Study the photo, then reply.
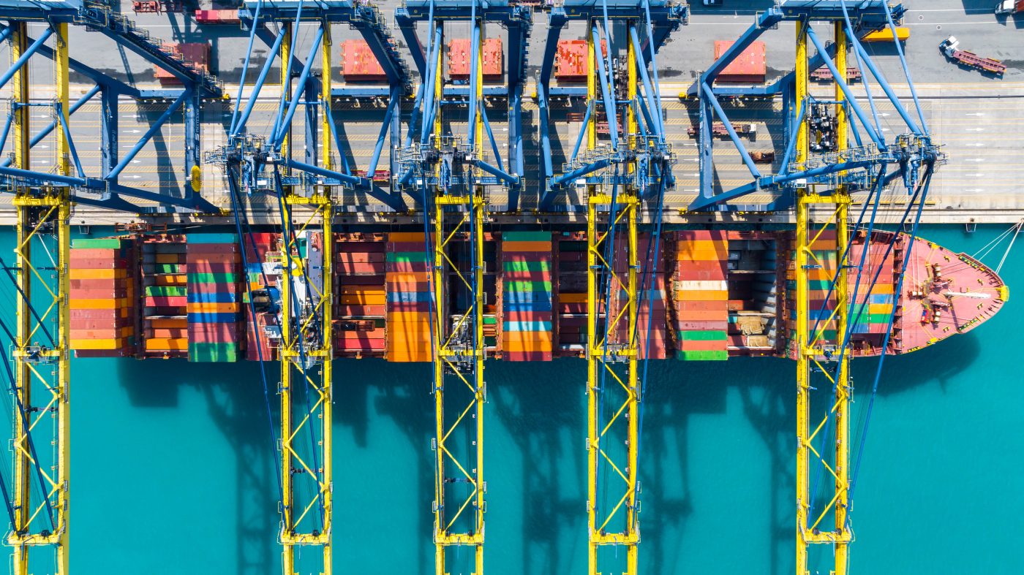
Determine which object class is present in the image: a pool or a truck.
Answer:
truck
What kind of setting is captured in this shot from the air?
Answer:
port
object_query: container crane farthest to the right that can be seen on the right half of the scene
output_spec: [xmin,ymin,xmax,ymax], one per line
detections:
[673,0,960,575]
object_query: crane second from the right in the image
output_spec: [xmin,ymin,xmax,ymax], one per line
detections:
[529,0,701,575]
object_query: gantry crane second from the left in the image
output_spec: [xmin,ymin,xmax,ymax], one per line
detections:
[203,0,420,575]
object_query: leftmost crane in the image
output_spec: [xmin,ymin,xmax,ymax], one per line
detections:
[0,0,238,575]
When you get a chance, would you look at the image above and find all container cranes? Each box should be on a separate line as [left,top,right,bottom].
[374,0,544,575]
[673,0,960,575]
[0,0,238,575]
[529,0,701,575]
[203,0,420,575]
